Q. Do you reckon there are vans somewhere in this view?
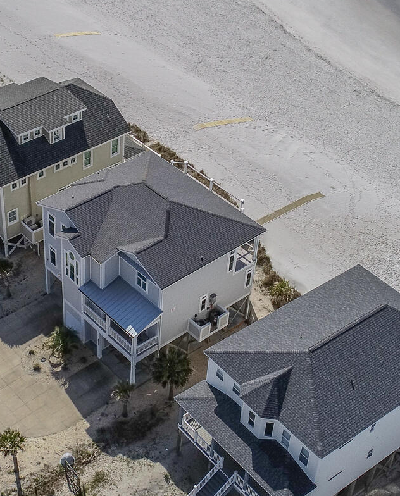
No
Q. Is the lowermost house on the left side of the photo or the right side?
right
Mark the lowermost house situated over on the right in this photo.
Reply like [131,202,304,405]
[172,266,400,496]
